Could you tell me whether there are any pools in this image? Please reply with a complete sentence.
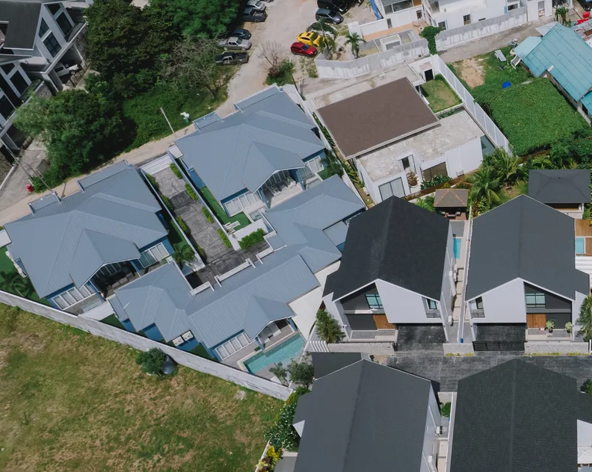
Yes, a pool is visible in the scene.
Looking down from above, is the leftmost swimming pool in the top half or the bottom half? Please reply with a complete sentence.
The leftmost swimming pool sits in the bottom half of the picture.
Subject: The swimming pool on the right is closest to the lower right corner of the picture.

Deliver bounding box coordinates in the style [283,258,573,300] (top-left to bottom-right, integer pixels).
[574,235,587,256]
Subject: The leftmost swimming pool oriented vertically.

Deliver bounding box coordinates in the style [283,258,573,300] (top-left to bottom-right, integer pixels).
[453,235,466,262]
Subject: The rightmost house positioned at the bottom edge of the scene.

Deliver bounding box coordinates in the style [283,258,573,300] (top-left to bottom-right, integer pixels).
[450,358,588,472]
